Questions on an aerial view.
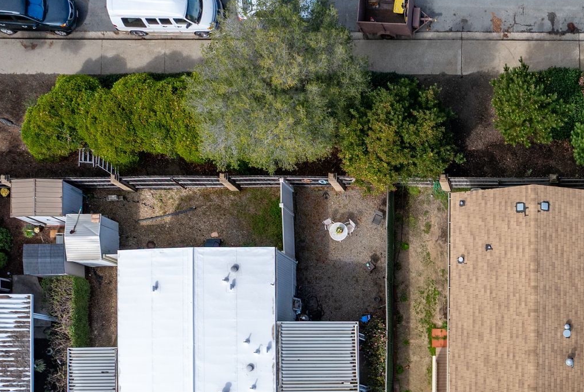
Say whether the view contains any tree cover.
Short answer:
Yes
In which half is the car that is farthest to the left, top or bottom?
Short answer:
top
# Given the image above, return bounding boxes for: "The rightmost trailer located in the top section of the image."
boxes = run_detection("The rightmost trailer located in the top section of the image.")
[356,0,438,39]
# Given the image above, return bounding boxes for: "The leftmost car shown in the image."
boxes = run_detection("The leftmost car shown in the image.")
[0,0,82,37]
